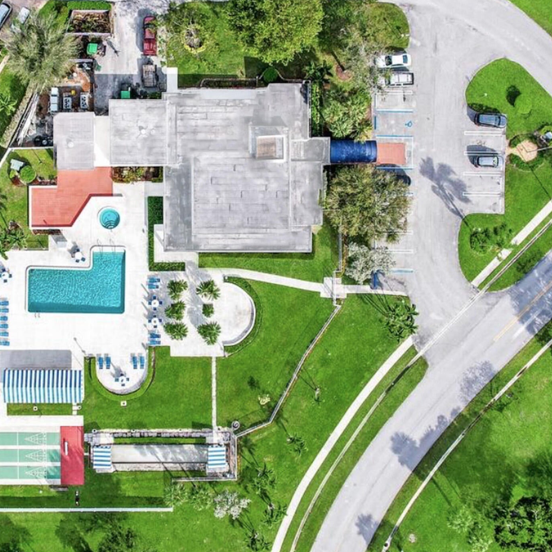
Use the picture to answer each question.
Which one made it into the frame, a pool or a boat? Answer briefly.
pool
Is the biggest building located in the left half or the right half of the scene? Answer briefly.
left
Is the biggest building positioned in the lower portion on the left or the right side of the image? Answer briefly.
left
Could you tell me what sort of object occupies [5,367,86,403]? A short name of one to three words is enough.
building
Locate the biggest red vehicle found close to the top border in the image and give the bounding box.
[143,15,159,56]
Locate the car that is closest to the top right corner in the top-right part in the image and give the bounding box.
[472,113,507,129]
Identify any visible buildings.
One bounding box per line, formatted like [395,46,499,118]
[5,367,86,403]
[54,68,330,253]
